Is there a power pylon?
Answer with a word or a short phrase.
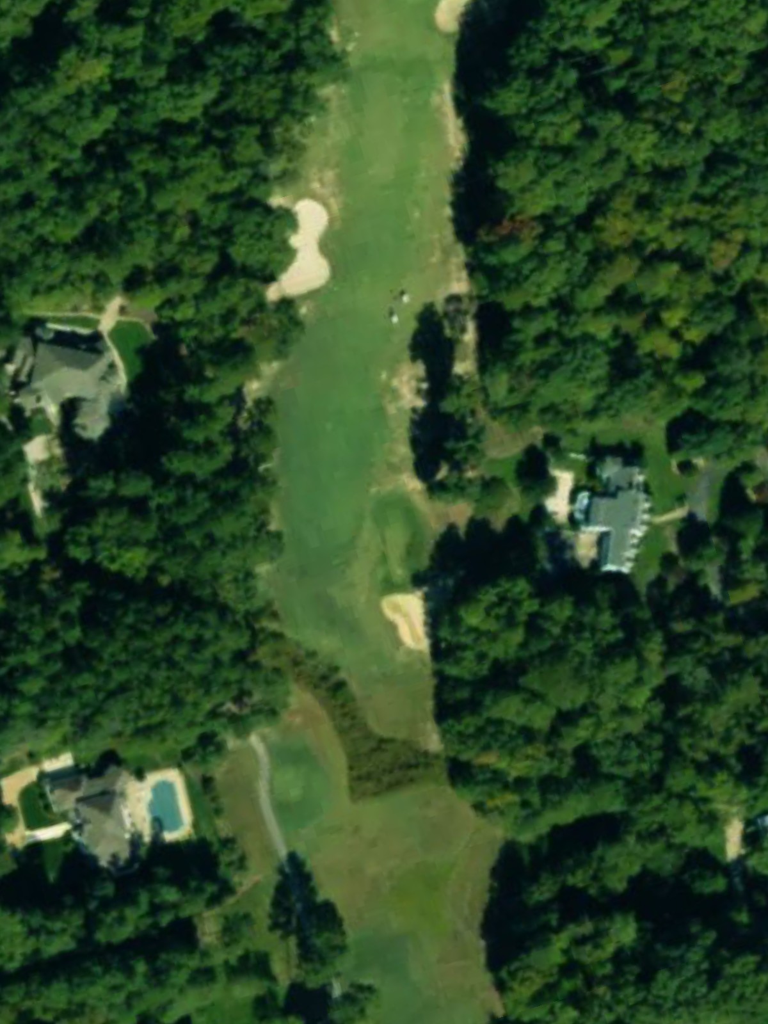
No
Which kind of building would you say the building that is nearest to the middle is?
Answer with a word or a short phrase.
home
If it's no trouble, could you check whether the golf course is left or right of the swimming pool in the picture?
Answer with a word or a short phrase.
right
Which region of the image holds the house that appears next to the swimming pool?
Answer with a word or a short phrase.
bottom left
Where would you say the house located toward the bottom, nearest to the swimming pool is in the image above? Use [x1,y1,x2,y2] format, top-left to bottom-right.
[47,762,139,868]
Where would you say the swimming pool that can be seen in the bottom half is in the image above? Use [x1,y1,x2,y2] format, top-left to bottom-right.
[148,778,182,833]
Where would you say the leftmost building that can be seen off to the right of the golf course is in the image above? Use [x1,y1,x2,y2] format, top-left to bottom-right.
[575,456,649,572]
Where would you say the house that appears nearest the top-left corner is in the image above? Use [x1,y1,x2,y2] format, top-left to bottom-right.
[15,341,138,440]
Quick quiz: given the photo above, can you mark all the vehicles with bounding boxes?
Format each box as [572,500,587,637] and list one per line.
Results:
[401,294,408,302]
[392,314,397,322]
